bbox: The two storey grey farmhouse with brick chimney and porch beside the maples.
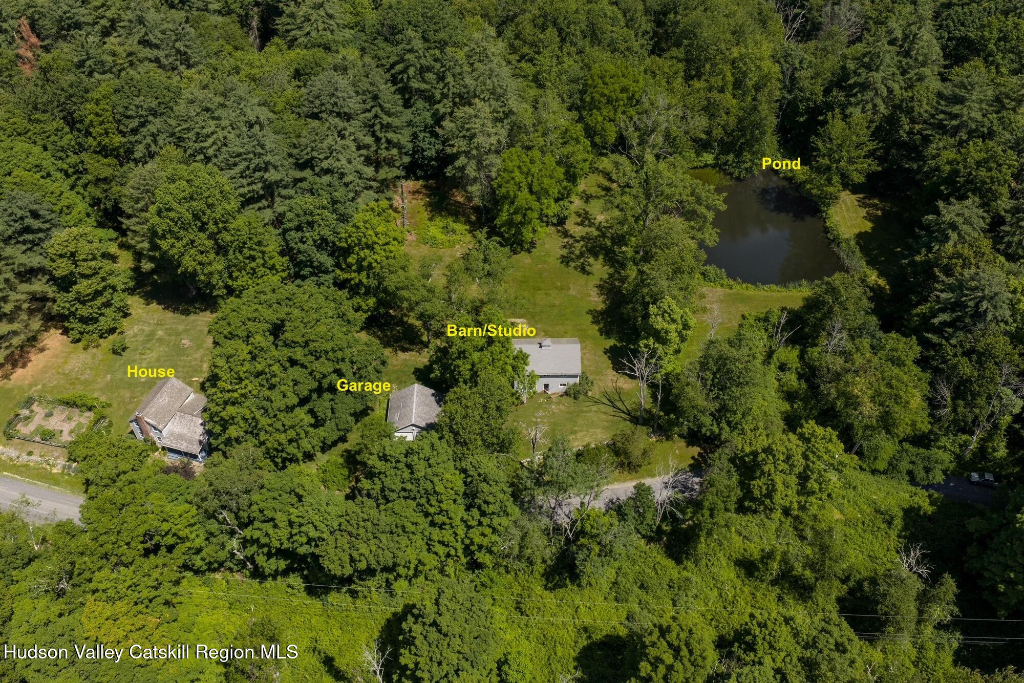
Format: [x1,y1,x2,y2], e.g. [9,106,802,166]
[128,377,226,463]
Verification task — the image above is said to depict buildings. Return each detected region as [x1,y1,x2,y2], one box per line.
[128,377,226,463]
[385,383,443,443]
[513,339,581,393]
